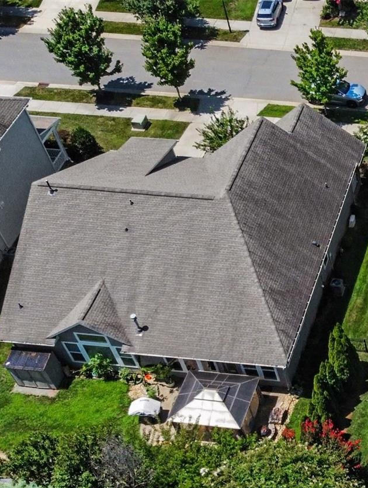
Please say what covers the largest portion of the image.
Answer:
buildings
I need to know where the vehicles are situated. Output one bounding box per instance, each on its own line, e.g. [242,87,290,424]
[255,0,286,25]
[334,82,368,107]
